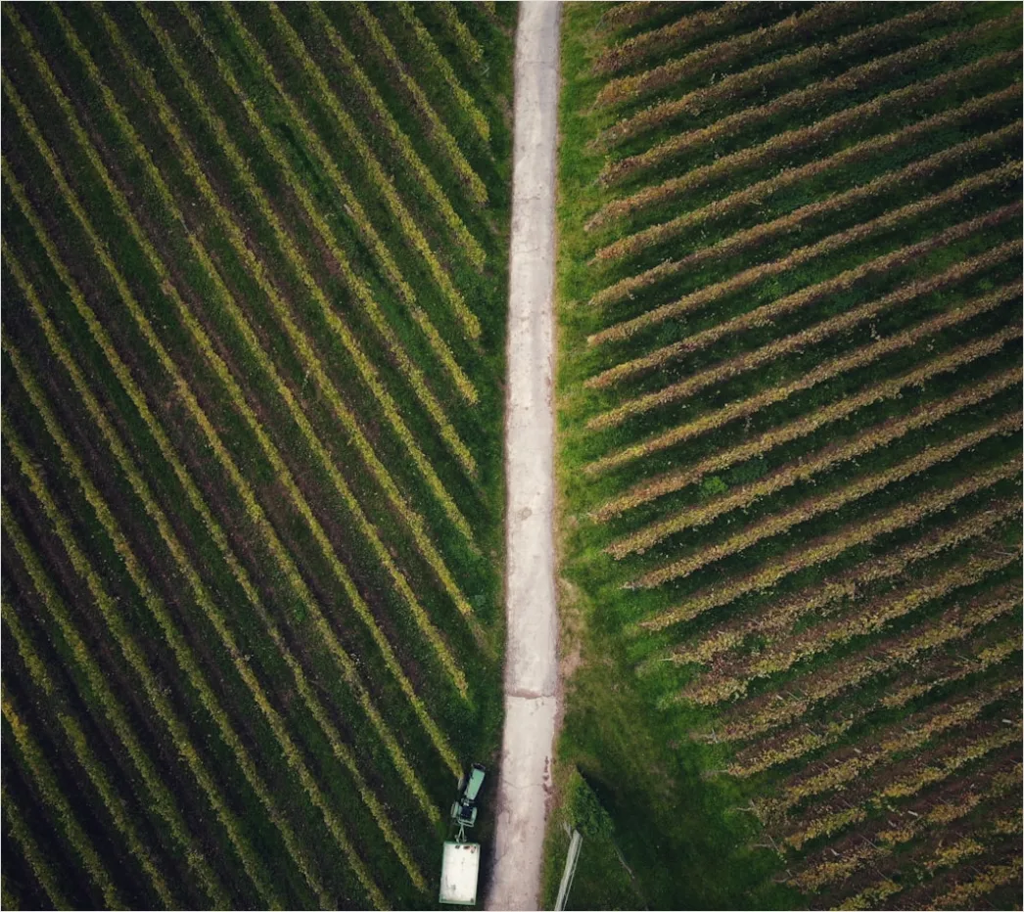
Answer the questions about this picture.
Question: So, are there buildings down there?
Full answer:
No, no building is visible in the view.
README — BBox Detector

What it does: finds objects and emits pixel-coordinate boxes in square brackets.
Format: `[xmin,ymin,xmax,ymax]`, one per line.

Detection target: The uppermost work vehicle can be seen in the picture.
[450,761,487,827]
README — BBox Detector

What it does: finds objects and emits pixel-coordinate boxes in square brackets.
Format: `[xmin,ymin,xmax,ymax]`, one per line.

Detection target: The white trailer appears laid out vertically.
[439,826,481,906]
